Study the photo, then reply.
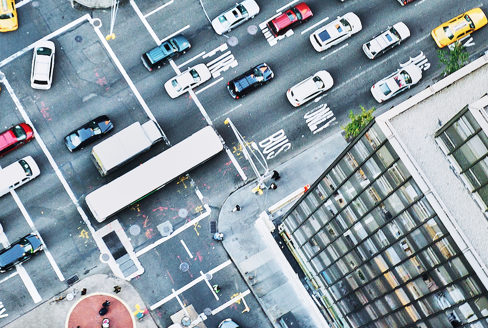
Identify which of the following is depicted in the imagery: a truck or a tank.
truck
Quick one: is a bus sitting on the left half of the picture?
Yes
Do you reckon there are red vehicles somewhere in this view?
Yes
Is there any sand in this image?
No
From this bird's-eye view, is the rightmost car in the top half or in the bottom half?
top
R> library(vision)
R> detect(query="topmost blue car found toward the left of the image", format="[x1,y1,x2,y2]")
[142,33,191,71]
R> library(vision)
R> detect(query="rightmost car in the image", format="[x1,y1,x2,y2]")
[430,8,487,50]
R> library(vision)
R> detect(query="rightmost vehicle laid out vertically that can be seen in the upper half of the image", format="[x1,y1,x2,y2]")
[31,42,55,90]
